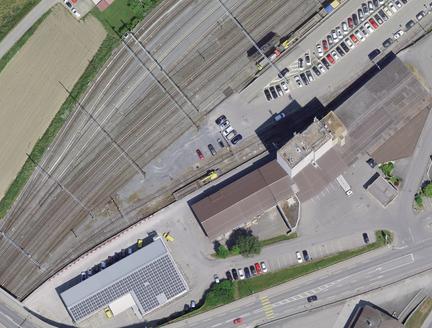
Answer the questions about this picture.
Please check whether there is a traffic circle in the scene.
No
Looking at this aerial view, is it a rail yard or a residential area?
rail yard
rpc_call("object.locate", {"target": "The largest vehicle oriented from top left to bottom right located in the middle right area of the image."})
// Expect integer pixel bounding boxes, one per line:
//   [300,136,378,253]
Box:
[334,174,354,196]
